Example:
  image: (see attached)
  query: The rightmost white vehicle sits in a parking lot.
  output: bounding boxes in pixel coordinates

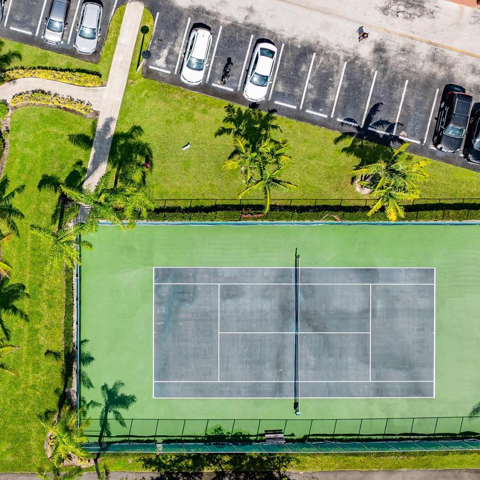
[244,43,278,102]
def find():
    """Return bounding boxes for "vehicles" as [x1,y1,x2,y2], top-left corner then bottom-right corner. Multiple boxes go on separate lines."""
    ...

[222,61,231,87]
[73,0,103,56]
[464,111,480,165]
[434,89,474,154]
[181,26,214,86]
[44,0,71,47]
[244,43,278,102]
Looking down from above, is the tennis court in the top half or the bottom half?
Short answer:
bottom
